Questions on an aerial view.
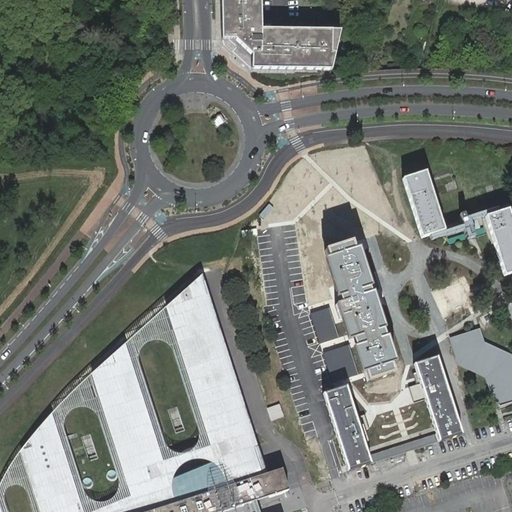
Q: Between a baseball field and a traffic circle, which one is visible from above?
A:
traffic circle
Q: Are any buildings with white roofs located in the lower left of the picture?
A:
Yes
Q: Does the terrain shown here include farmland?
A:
No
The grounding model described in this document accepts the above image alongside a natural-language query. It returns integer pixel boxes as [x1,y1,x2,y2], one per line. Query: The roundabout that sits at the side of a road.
[130,74,262,207]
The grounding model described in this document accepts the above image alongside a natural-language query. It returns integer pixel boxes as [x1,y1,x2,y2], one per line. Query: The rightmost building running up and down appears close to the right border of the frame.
[484,206,512,276]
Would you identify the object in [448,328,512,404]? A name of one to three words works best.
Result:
building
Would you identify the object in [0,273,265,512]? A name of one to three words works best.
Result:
building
